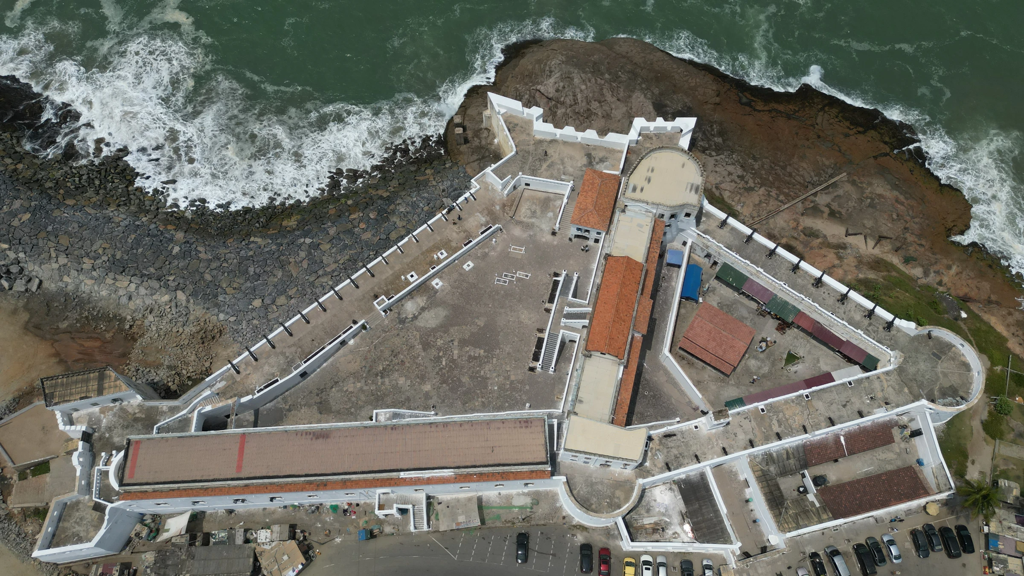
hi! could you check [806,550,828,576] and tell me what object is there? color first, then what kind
black car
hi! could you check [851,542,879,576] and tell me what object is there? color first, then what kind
black car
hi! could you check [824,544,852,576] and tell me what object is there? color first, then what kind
gray car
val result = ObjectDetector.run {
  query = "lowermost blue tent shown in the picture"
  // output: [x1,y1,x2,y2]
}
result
[682,264,703,306]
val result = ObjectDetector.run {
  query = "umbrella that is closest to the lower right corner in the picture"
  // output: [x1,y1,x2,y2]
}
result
[923,501,940,518]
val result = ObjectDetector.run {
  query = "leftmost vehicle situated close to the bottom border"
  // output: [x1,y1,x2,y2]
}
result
[515,532,529,564]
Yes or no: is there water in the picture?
Yes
